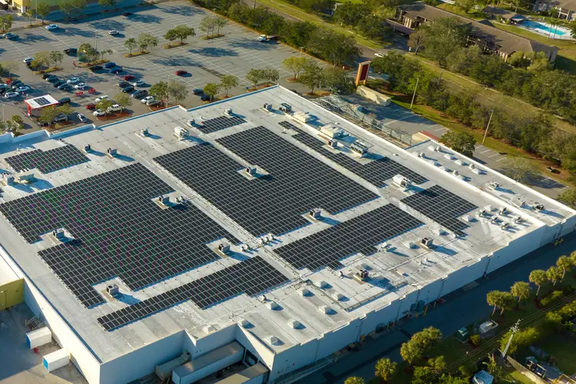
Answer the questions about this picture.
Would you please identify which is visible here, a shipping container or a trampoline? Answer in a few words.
shipping container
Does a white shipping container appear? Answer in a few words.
Yes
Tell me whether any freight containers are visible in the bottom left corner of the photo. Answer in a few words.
Yes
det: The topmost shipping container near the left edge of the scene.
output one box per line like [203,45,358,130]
[24,325,56,351]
